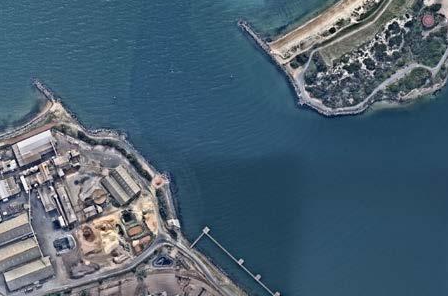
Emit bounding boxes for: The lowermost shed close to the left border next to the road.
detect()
[2,257,55,292]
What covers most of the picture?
water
